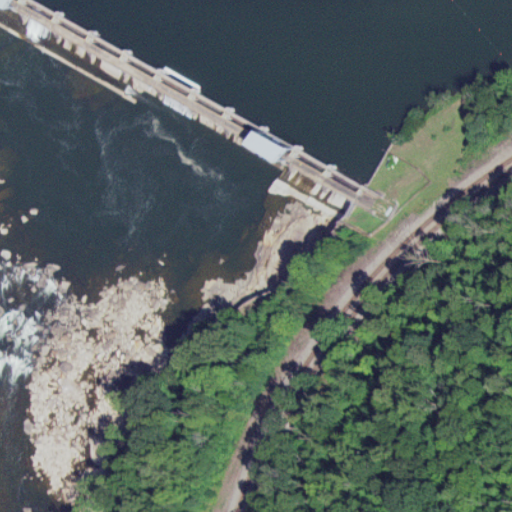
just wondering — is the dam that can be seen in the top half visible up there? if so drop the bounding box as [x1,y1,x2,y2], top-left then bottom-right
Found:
[0,0,388,210]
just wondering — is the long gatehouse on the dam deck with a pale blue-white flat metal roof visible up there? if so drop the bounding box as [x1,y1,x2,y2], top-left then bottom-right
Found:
[242,130,288,165]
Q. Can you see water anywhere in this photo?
Yes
